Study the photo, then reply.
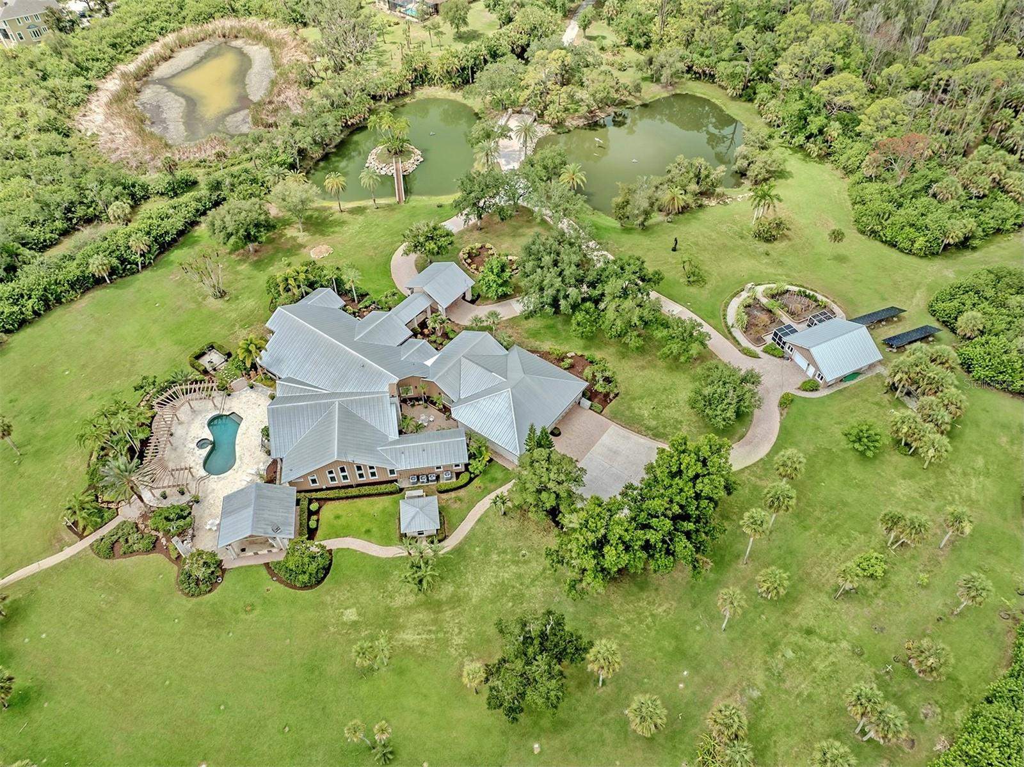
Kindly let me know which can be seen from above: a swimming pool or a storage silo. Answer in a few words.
swimming pool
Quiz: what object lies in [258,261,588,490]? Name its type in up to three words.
house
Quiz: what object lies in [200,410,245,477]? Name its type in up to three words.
swimming pool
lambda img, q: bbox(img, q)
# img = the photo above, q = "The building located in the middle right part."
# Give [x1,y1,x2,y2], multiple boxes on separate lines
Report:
[783,318,882,393]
